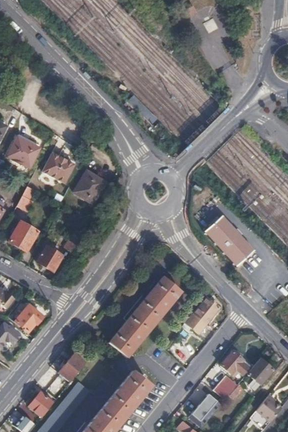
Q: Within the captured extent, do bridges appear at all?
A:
Yes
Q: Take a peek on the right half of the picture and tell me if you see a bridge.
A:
Yes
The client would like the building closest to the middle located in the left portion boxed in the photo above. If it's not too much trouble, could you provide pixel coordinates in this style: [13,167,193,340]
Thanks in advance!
[73,170,106,204]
